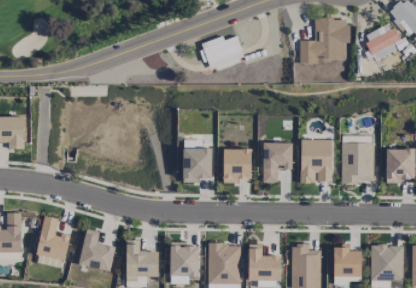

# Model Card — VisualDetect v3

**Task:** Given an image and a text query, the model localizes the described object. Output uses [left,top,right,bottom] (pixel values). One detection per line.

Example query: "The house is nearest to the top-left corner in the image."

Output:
[0,116,25,150]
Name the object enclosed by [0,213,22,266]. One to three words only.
house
